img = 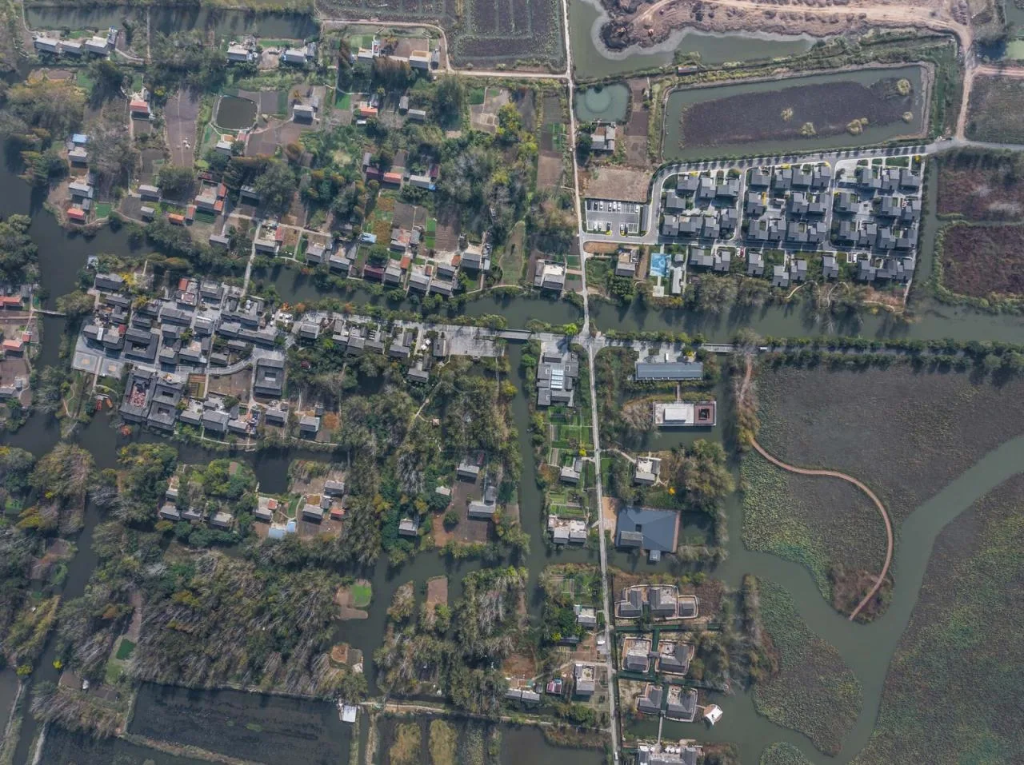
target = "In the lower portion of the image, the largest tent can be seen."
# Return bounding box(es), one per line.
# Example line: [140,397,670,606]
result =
[704,705,725,727]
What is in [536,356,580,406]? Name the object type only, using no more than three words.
building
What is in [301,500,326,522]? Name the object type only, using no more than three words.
house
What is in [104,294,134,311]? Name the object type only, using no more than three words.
house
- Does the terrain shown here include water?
Yes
